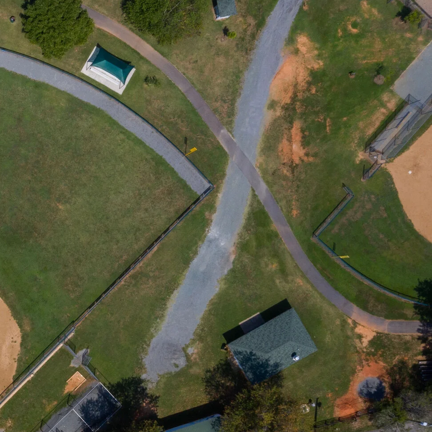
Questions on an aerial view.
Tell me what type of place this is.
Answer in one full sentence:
What you see here is a sports ground.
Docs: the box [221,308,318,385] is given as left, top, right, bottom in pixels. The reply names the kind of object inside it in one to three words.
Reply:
building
